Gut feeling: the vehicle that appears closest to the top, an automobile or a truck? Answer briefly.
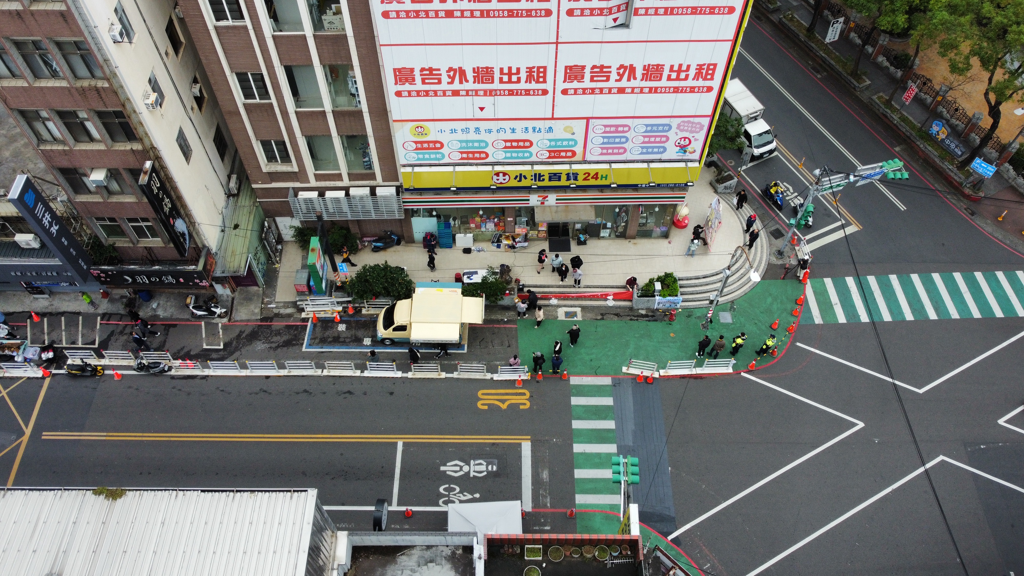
truck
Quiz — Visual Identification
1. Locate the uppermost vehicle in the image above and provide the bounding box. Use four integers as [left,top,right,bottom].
[720,77,778,164]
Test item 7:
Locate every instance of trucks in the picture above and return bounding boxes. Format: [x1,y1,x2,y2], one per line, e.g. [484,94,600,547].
[720,77,778,164]
[372,278,486,346]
